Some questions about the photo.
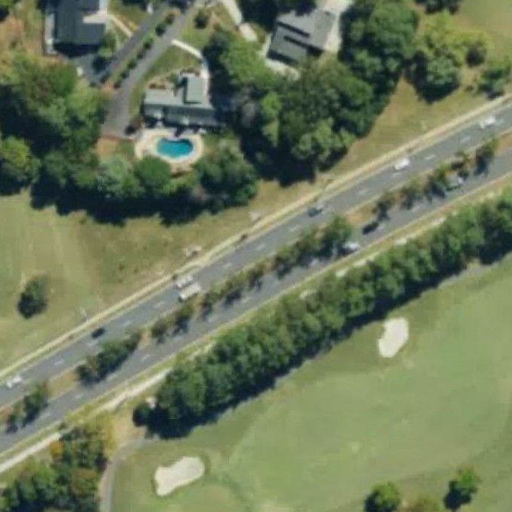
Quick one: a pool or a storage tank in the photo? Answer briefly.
pool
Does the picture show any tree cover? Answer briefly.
Yes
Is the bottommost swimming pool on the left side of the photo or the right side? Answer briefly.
left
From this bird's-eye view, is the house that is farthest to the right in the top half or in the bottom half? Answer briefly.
top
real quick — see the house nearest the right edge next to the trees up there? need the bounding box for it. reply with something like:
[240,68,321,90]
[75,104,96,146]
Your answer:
[268,6,343,61]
